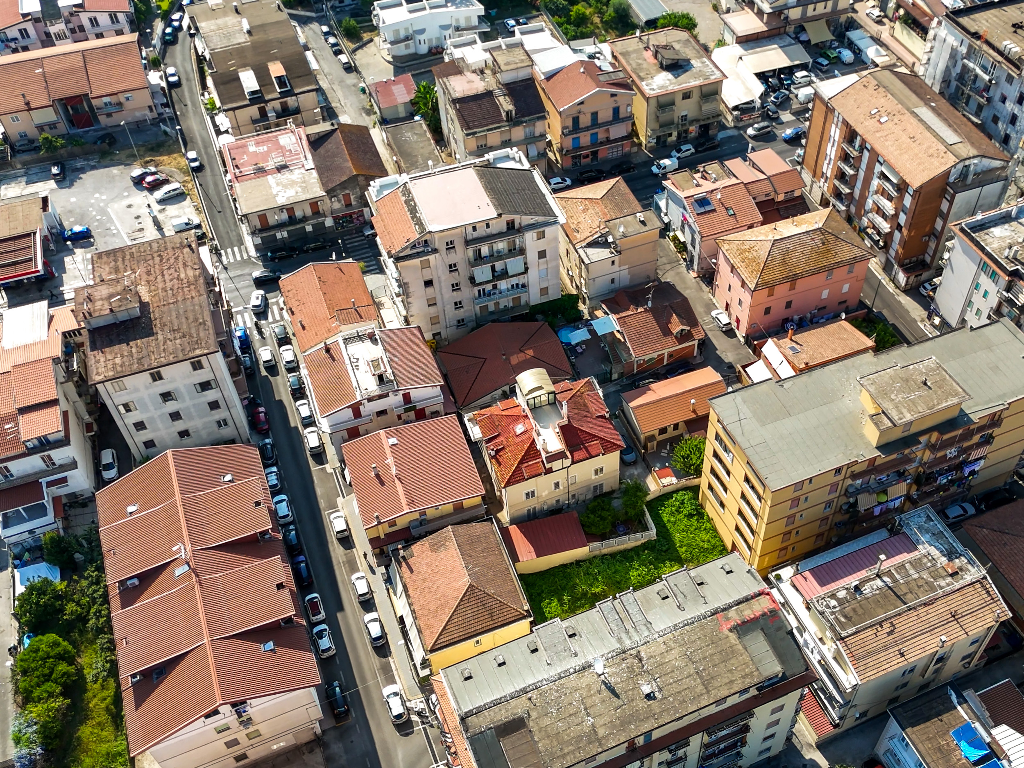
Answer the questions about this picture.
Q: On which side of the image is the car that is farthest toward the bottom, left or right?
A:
right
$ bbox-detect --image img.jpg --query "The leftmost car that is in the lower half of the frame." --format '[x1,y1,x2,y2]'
[99,448,120,480]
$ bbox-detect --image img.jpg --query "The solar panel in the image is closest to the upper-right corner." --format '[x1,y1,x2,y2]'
[695,191,713,210]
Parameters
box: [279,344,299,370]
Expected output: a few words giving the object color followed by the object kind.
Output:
white car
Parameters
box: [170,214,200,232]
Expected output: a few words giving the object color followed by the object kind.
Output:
white vehicle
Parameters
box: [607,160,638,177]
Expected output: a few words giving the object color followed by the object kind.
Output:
black car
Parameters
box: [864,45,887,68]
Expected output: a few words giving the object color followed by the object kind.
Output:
white gazebo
